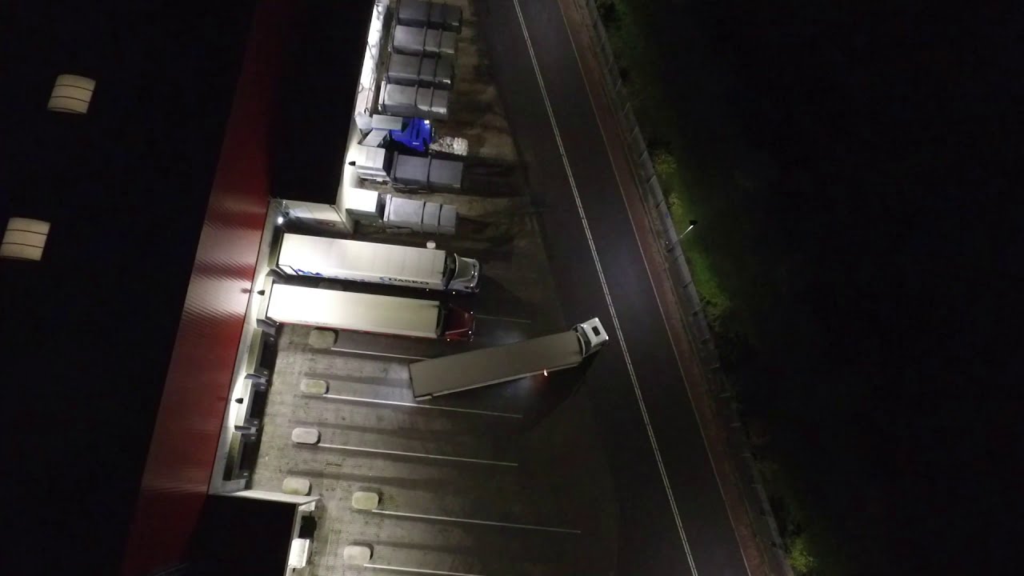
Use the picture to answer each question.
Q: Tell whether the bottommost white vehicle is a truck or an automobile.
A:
truck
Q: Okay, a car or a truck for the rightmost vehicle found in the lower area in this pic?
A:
truck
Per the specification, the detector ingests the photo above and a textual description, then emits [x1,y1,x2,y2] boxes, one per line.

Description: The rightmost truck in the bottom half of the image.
[407,313,616,397]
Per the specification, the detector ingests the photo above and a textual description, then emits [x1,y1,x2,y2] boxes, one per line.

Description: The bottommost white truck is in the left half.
[268,284,478,344]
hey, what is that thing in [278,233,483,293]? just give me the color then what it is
white truck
